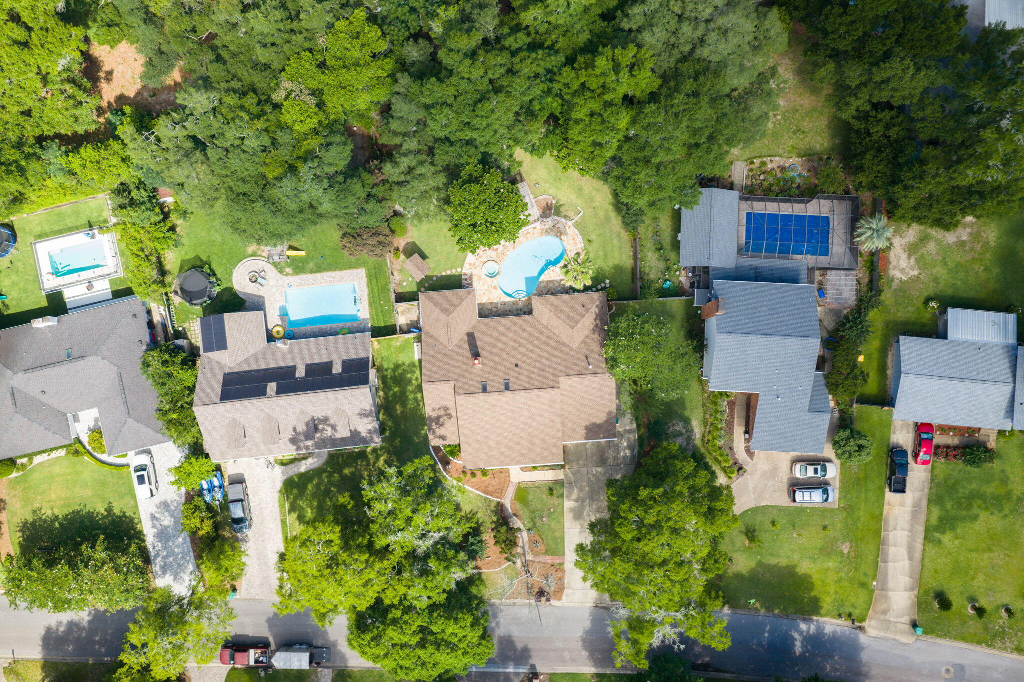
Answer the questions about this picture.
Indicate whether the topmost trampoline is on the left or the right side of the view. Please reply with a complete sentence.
The topmost trampoline appears in the left half of the scene.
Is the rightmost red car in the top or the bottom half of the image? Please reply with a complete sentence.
You can find the rightmost red car in the bottom half.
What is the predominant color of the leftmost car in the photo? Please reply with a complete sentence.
The leftmost car looks white in the image.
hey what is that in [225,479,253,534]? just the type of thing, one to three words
truck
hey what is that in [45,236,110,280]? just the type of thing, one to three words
swimming pool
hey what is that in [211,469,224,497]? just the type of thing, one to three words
boat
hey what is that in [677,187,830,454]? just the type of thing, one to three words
house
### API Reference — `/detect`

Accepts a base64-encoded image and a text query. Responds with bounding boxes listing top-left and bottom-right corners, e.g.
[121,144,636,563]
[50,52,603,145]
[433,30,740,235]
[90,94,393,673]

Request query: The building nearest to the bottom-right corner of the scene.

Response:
[882,308,1024,432]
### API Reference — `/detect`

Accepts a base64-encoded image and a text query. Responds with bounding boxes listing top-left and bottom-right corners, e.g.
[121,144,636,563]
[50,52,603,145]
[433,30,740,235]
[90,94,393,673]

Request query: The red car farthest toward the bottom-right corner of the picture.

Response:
[911,422,937,466]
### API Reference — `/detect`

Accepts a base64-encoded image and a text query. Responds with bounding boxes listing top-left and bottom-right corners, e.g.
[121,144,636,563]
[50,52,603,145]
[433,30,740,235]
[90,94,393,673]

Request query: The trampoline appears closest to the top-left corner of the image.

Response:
[0,223,22,256]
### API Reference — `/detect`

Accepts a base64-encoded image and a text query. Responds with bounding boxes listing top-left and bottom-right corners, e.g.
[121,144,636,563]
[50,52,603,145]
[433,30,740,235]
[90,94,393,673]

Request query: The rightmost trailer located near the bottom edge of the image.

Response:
[272,642,331,671]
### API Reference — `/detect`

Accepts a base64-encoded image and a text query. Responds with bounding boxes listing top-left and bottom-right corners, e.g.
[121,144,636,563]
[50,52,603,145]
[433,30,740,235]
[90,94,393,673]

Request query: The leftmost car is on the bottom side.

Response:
[132,452,160,501]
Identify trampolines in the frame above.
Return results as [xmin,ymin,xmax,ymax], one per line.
[172,265,218,307]
[0,223,22,256]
